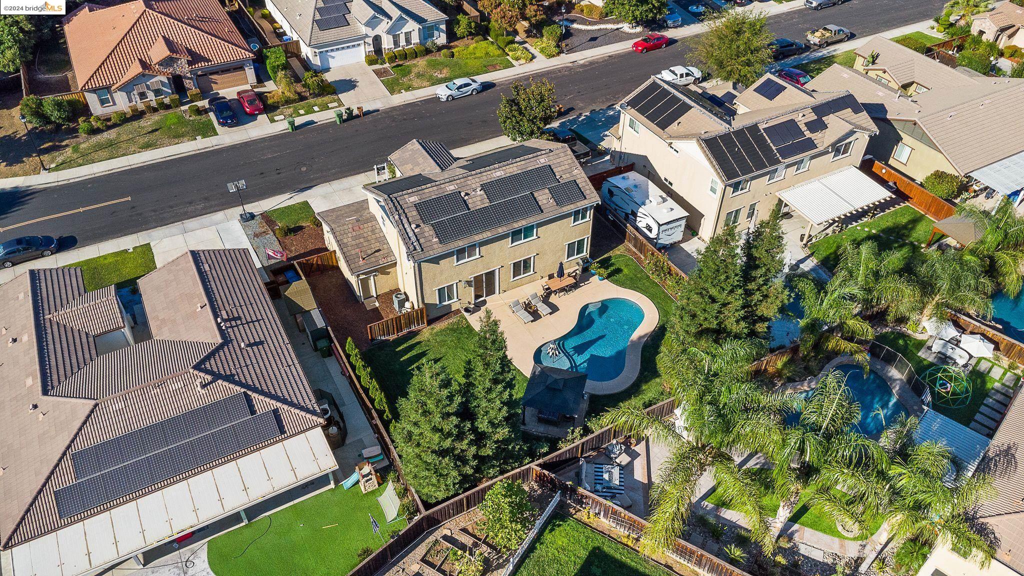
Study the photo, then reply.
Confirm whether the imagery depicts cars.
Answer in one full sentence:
Yes, the photo shows a car.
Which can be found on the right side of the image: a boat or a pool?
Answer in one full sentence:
There is a pool on the right side of the image.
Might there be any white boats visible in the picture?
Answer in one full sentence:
No, there isn't any white boat down there.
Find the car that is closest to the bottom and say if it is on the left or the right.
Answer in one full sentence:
You can find the car that is closest to the bottom on the left side of the picture.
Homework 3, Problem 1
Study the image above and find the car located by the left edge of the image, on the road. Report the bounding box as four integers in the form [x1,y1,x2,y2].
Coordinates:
[0,232,60,265]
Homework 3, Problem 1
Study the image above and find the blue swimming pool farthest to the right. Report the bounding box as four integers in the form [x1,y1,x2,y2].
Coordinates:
[961,272,1024,352]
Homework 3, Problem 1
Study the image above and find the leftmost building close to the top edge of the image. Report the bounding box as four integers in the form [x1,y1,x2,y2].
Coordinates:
[54,0,255,113]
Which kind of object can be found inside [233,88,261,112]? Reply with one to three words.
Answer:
car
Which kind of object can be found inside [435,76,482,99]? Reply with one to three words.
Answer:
car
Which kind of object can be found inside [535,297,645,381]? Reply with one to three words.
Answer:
swimming pool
